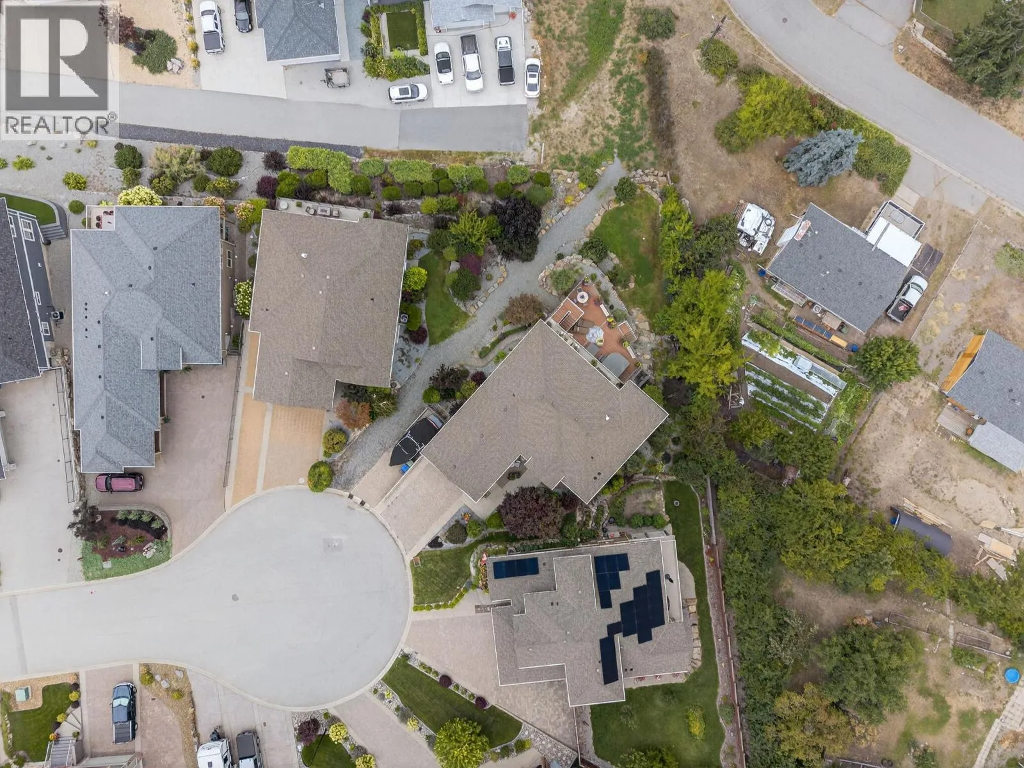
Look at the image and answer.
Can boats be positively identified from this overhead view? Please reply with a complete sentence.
Yes, a boat can be made out from above.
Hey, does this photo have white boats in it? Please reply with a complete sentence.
No, I can see no white boat in this picture.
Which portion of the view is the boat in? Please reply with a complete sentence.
The boat is in the center part of the image.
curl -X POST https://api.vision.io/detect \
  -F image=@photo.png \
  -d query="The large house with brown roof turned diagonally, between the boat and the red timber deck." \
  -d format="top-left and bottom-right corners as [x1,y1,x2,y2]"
[420,319,669,505]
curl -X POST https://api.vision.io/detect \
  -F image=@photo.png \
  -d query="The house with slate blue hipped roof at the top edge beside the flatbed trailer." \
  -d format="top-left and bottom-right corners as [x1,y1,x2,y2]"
[259,0,343,73]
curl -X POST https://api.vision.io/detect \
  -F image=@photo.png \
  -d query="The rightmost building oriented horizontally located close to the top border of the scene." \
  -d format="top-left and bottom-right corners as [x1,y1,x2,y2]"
[430,0,524,39]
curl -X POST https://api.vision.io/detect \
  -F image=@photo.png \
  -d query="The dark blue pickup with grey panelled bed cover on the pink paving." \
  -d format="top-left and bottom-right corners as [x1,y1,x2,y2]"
[109,679,140,744]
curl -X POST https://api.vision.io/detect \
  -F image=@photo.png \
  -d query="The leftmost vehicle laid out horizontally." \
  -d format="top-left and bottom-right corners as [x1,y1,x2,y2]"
[98,472,147,495]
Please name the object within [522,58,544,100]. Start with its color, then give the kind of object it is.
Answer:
white car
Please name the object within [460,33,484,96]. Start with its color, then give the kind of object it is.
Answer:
white truck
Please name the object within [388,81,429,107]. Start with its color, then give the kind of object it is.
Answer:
white car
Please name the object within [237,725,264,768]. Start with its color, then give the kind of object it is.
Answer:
gray truck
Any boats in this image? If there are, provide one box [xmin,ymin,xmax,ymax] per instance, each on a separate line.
[394,412,444,468]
